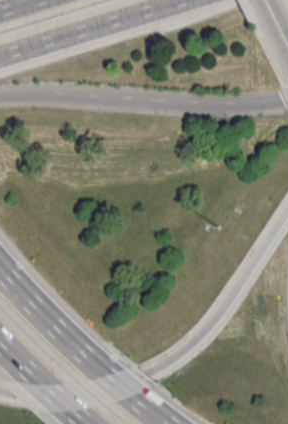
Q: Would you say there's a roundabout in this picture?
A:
No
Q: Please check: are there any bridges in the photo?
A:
Yes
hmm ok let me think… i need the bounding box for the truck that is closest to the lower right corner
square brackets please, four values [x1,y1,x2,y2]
[140,388,164,409]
